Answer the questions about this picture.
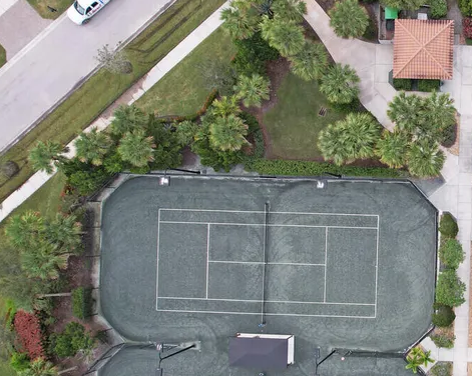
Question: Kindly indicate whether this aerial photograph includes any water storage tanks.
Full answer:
No, the scene contains no water storage tank.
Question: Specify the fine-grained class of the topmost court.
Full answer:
I'd identify the topmost court as a tennis court.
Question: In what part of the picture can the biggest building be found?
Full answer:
Look in the top right portion of the view to spot the biggest building.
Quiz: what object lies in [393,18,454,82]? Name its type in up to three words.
building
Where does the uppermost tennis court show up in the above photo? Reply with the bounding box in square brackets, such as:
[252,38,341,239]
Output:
[100,177,436,354]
